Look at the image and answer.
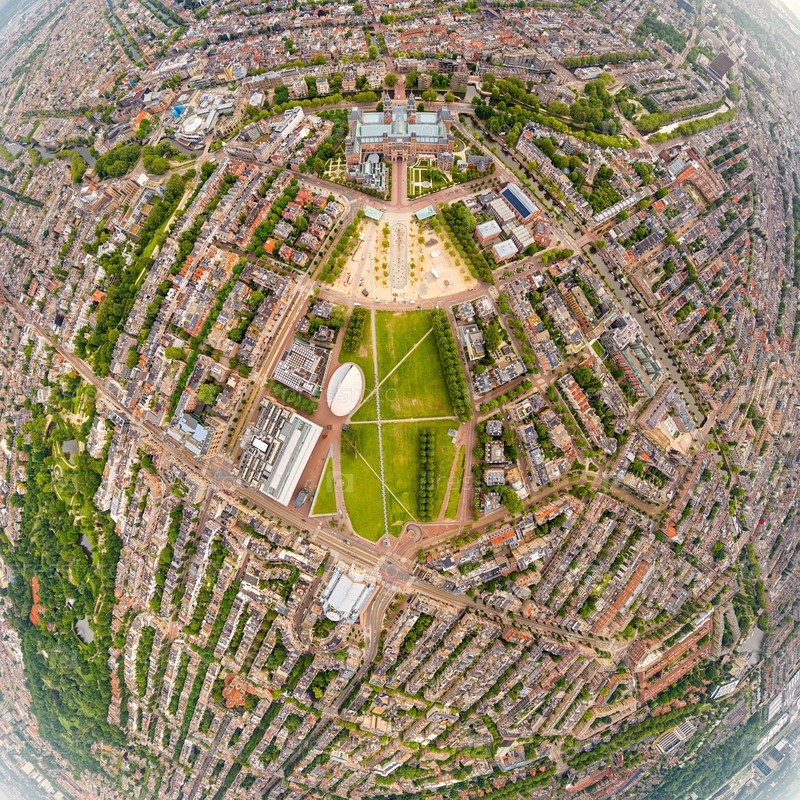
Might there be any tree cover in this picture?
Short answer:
Yes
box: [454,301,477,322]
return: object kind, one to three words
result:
house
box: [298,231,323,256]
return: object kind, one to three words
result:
house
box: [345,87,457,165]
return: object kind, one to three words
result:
building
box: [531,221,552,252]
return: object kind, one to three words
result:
building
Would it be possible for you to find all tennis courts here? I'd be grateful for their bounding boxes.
[28,574,44,627]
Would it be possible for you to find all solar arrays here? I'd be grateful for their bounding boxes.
[502,188,533,220]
